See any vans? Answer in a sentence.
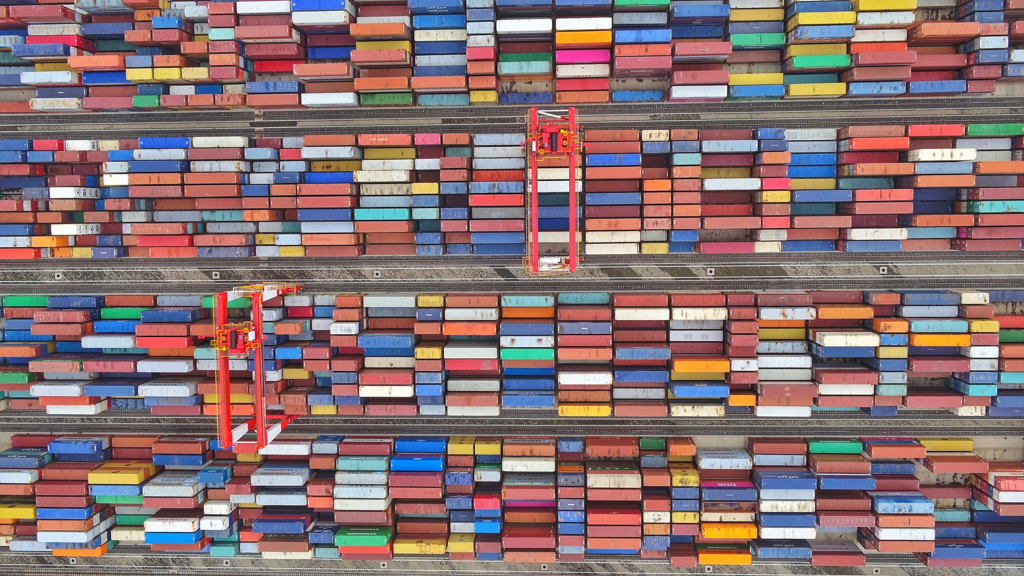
No, I can't see a single van in this photo.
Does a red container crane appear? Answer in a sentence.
Yes, looking at the shot, I can spot a red container crane.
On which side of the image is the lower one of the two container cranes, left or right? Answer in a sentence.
You can find the lower one of the two container cranes on the left side of the picture.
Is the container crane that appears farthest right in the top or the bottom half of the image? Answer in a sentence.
The container crane that appears farthest right is in the top half of the image.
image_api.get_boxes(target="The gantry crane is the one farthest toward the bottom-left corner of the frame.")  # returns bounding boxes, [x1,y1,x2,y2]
[206,280,306,447]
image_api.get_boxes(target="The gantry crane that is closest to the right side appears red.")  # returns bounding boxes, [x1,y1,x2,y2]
[517,106,589,277]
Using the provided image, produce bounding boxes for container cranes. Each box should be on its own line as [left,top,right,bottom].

[517,106,589,277]
[206,280,306,447]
